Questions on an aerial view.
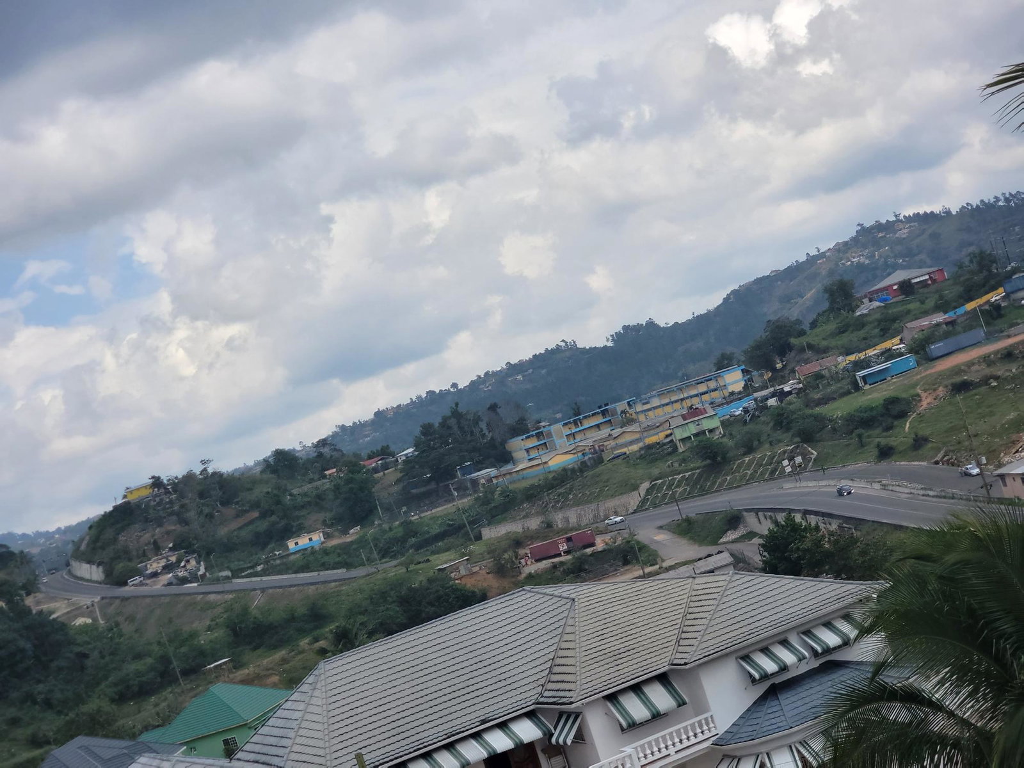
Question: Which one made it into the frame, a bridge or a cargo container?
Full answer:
It is a cargo container that can be seen here.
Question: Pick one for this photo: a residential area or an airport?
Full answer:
This looks like a residential area.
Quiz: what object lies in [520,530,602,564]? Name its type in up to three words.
shipping container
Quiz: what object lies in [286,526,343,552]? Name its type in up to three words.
building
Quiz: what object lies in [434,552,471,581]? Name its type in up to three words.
shed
